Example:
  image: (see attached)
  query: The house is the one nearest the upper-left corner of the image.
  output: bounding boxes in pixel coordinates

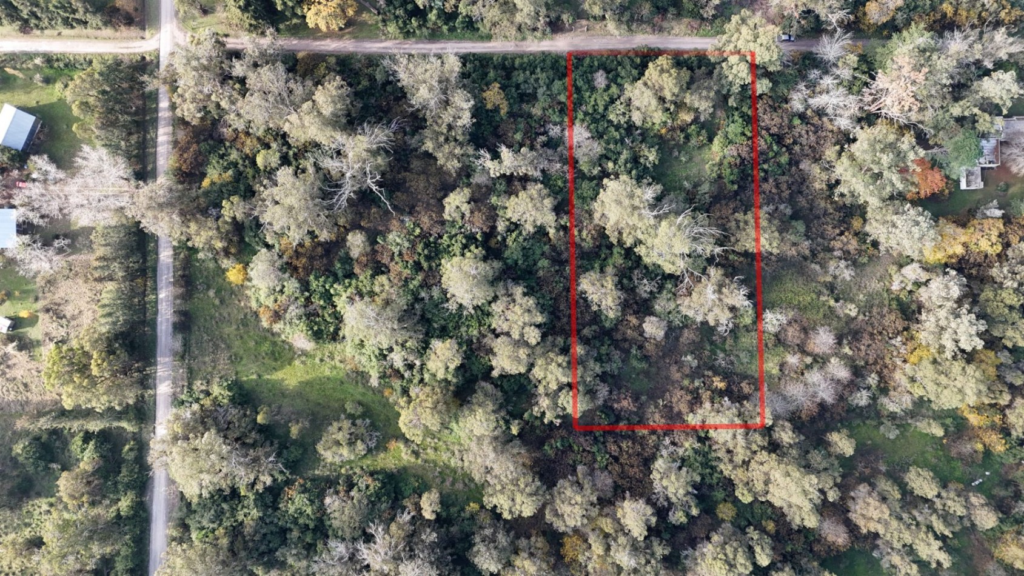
[0,104,45,154]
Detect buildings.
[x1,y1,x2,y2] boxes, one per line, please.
[955,116,1024,190]
[0,104,45,154]
[0,316,18,335]
[0,208,22,248]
